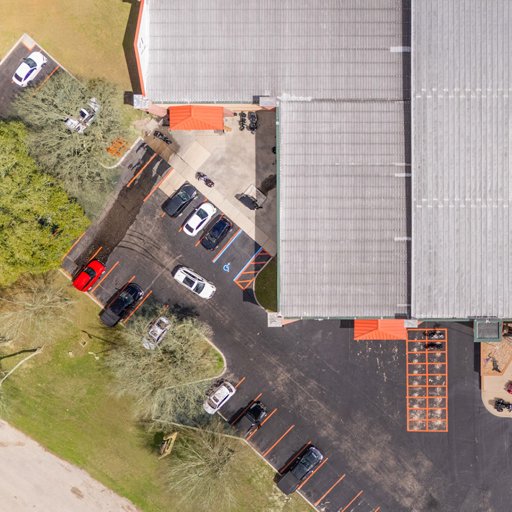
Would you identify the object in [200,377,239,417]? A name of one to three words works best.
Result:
car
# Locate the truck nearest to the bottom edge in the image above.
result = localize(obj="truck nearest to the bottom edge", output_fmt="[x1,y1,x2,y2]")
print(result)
[275,446,325,496]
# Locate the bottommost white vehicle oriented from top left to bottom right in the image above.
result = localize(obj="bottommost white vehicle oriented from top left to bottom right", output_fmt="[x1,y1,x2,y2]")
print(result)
[172,263,217,302]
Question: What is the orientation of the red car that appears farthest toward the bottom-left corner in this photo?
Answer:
diagonally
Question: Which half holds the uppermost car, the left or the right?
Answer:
left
